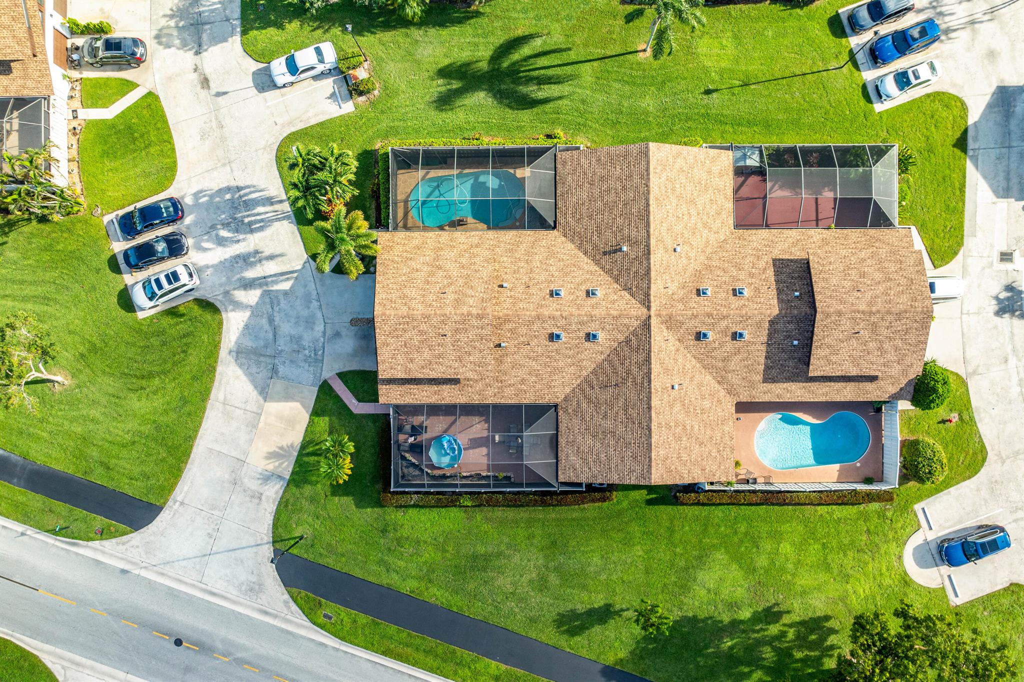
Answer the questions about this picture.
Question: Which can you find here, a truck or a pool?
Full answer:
Of the two, only a pool appears.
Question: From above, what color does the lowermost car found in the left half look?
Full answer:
From above, the lowermost car found in the left half appears white.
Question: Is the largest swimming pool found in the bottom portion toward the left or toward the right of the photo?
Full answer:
You can find the largest swimming pool found in the bottom portion on the right side of the picture.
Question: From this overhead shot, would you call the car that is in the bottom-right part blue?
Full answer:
Yes, the car that is in the bottom-right part is blue.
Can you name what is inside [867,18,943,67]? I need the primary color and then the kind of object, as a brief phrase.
blue car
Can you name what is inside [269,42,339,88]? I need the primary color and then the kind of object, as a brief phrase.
white car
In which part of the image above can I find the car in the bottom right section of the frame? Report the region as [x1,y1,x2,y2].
[935,523,1012,565]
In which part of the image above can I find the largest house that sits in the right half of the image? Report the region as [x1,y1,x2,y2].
[373,140,934,489]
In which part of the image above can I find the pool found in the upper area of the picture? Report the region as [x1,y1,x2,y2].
[408,168,526,227]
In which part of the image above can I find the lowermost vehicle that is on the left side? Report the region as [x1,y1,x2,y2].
[132,266,204,306]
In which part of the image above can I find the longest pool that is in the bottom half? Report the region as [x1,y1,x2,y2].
[754,410,872,472]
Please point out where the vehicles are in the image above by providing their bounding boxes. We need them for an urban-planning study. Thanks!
[926,276,966,303]
[81,34,151,69]
[844,0,917,37]
[121,198,188,237]
[132,266,204,306]
[269,42,339,88]
[935,523,1012,565]
[121,232,193,270]
[867,18,943,67]
[872,59,944,102]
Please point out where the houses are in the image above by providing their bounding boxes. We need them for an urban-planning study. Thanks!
[0,0,71,107]
[373,140,934,489]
